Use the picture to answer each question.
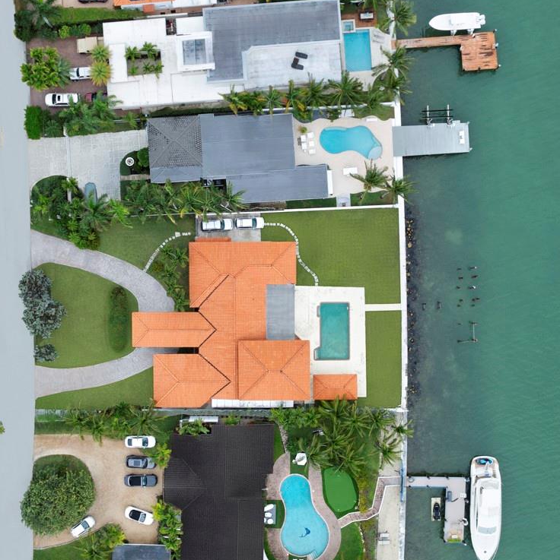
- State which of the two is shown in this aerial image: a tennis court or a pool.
pool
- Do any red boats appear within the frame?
No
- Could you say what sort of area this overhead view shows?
residential area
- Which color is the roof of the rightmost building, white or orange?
orange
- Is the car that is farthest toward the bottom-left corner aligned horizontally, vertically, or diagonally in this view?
diagonally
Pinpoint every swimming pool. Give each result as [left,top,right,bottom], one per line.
[278,473,331,560]
[317,124,384,161]
[314,301,351,361]
[341,26,375,74]
[340,18,355,32]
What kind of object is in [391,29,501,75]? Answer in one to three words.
pier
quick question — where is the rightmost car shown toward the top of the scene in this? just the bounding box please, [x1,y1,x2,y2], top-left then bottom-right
[234,214,265,229]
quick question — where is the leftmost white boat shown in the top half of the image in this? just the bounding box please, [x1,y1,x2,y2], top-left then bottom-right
[429,13,483,32]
